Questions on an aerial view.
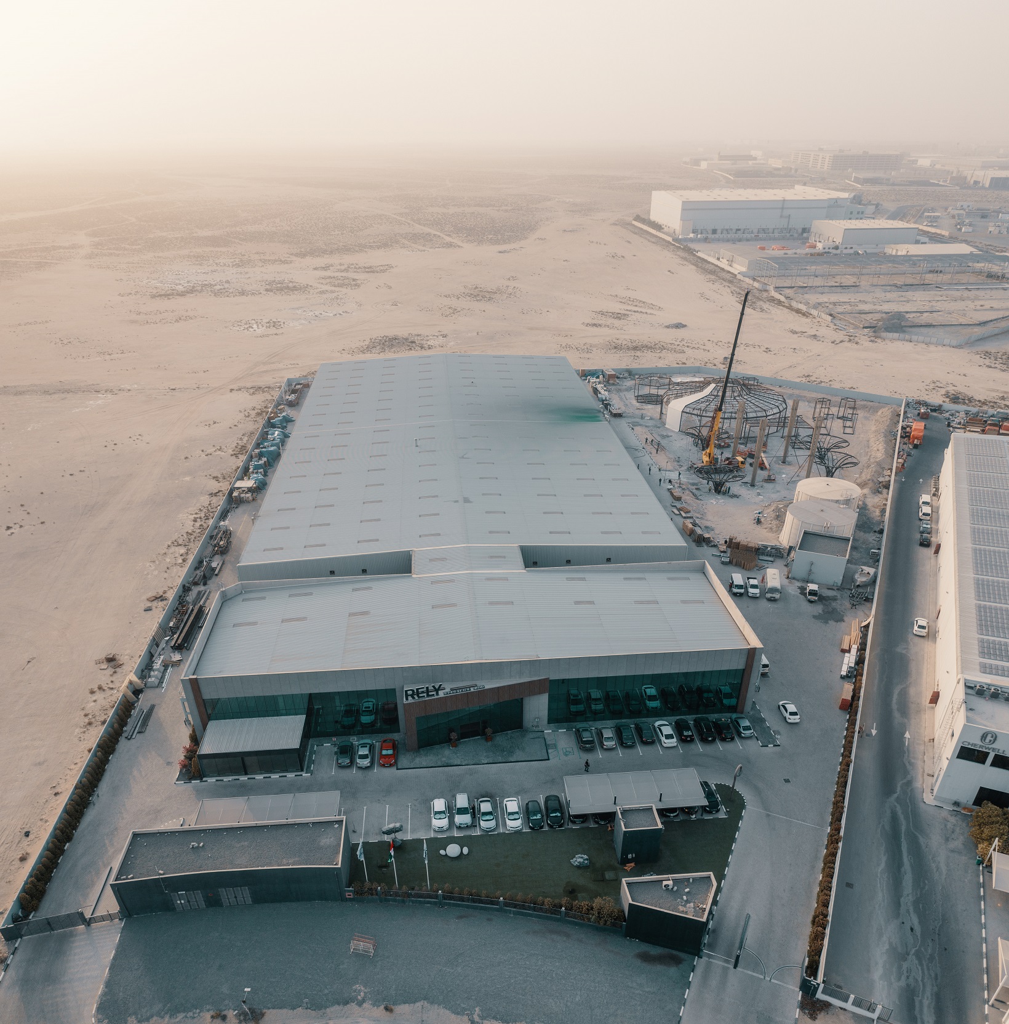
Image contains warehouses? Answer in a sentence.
Yes, looking at the shot, I can spot a warehouse.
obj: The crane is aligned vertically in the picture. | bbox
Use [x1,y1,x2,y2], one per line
[696,291,751,470]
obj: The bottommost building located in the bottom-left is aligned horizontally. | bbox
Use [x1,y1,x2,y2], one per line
[111,817,350,918]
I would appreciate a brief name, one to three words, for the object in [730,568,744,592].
vehicle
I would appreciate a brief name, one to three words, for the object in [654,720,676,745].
car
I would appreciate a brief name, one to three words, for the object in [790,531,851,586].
building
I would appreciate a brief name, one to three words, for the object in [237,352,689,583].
warehouse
